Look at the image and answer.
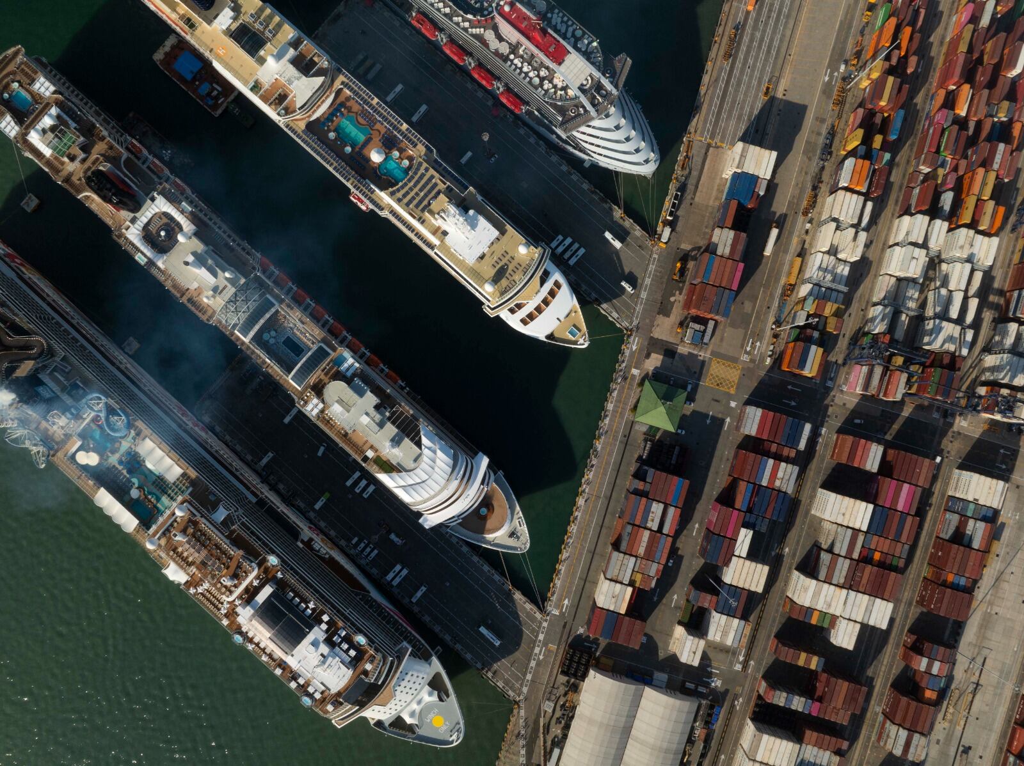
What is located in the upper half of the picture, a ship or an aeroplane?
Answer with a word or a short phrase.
ship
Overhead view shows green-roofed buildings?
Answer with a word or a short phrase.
Yes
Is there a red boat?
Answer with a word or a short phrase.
Yes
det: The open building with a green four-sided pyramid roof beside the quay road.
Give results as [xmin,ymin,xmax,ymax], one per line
[632,379,688,432]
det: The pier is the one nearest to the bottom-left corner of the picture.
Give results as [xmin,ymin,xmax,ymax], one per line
[197,351,542,700]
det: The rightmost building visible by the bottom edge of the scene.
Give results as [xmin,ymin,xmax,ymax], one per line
[558,662,699,766]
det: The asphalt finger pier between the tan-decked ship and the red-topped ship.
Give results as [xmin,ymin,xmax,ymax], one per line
[312,0,652,328]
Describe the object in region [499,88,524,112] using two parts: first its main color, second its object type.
red boat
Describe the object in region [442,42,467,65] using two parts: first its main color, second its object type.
red boat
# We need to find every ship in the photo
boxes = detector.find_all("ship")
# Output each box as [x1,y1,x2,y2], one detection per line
[367,0,660,179]
[0,237,465,749]
[125,111,184,168]
[152,33,242,119]
[0,45,530,554]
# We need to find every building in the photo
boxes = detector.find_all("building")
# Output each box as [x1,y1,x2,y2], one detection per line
[558,662,699,766]
[632,379,688,432]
